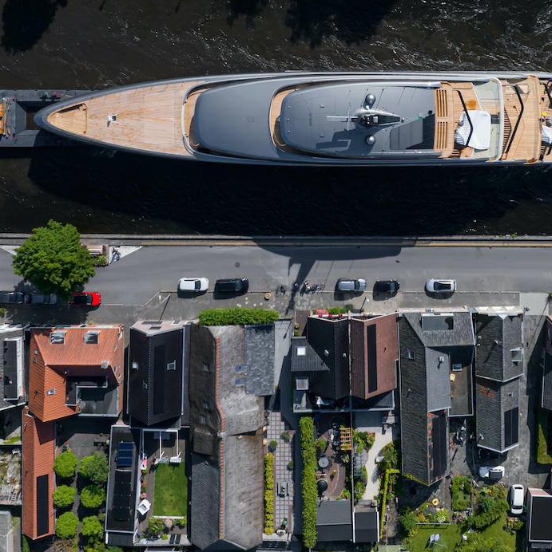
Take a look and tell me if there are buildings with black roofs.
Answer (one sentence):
Yes, you can see a building with a black roof in this photo.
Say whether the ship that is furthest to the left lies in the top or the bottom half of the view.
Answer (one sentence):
You can find the ship that is furthest to the left in the top half.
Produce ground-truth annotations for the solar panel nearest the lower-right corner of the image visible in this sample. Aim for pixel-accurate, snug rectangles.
[505,407,518,448]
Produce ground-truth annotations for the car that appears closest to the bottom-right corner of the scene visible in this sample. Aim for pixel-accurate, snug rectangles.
[510,483,524,513]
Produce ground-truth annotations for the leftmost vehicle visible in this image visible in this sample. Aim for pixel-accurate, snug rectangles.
[0,290,25,305]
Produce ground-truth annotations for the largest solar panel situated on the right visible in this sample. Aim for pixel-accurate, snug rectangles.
[433,416,447,478]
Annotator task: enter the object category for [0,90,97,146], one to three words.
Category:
ship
